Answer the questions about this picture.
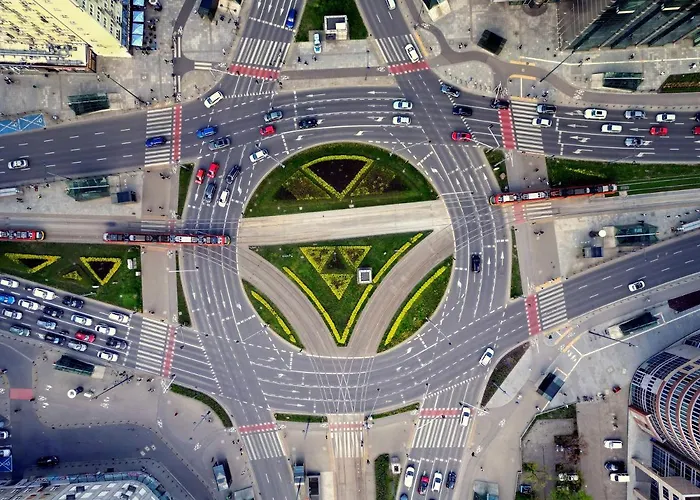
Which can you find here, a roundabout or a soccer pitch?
roundabout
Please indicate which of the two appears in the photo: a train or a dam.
train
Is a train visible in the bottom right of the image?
No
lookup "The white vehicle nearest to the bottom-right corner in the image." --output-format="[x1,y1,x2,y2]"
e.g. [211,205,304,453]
[608,472,634,484]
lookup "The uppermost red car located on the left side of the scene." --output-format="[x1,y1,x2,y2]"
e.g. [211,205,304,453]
[258,124,278,137]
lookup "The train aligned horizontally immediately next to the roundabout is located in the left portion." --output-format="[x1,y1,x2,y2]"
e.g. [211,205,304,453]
[105,232,234,246]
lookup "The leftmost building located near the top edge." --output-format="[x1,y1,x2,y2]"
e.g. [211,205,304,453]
[0,0,131,73]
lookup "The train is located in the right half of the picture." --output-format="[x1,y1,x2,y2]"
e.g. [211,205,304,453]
[485,181,615,207]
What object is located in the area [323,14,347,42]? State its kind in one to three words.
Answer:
house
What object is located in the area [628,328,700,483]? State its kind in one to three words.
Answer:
building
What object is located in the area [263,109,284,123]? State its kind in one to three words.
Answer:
vehicle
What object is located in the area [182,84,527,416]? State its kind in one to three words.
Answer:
roundabout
